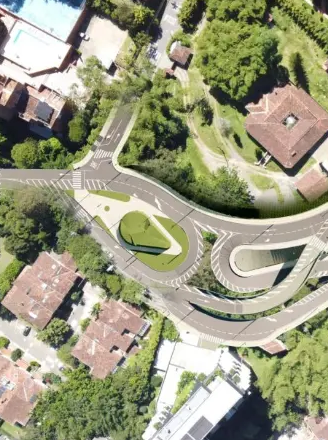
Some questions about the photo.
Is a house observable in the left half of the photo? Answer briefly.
Yes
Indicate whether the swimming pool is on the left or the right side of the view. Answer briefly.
left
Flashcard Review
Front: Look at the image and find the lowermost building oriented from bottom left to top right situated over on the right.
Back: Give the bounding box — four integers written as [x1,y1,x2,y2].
[150,365,246,440]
